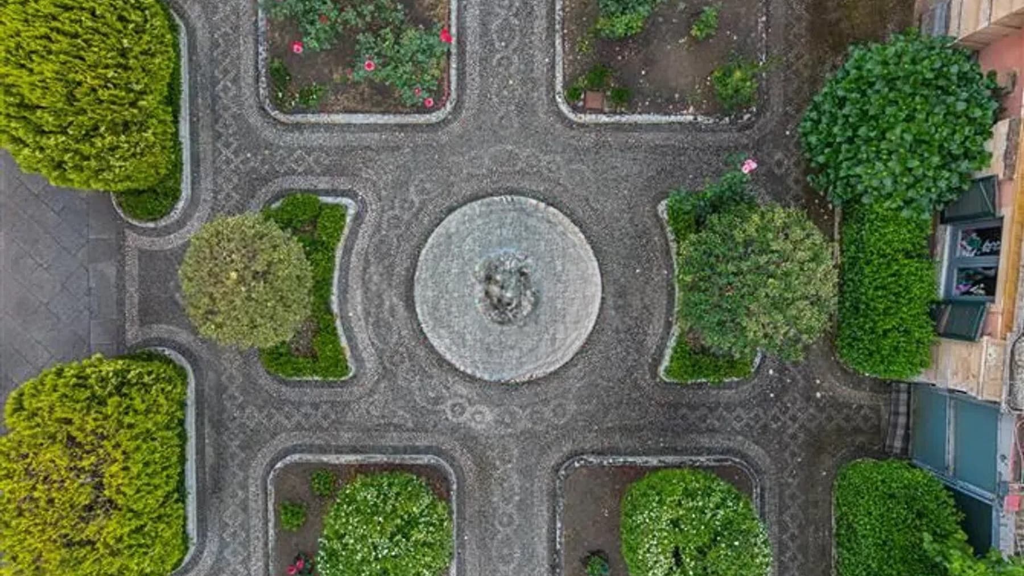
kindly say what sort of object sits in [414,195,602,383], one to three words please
fountain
